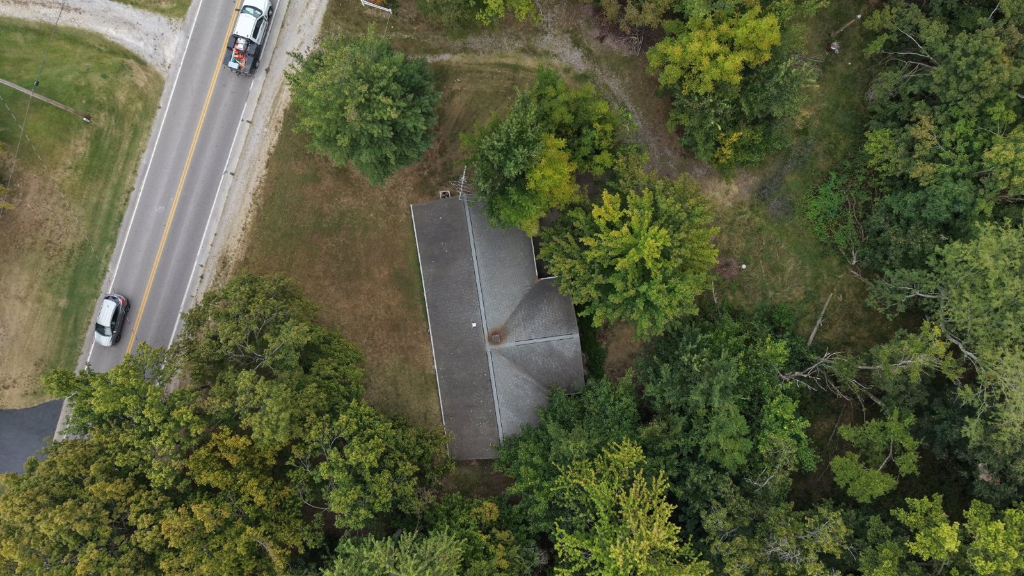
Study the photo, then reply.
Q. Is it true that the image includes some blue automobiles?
No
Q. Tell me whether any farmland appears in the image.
No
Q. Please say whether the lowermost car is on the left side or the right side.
left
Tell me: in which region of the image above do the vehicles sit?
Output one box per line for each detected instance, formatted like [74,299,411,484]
[224,0,274,75]
[94,293,131,347]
